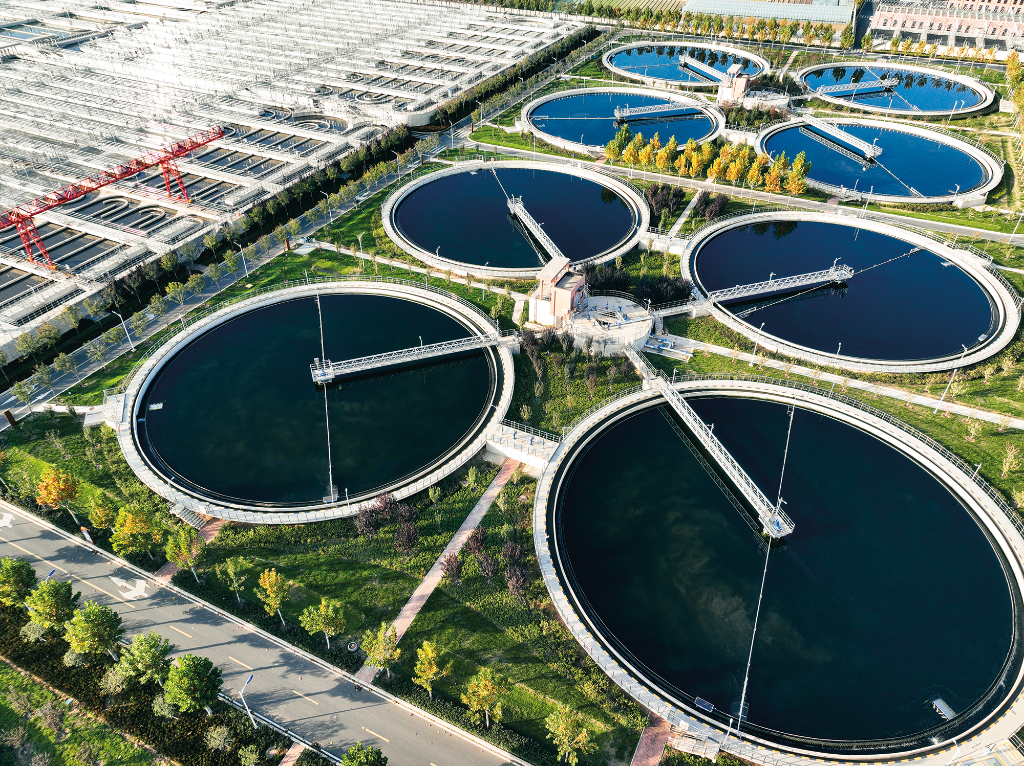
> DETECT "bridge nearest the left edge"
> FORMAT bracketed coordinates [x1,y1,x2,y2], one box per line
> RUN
[306,330,510,387]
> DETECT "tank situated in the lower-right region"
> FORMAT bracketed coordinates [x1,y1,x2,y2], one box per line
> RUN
[531,373,1024,766]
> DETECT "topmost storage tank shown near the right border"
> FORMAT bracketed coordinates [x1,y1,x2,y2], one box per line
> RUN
[794,57,994,121]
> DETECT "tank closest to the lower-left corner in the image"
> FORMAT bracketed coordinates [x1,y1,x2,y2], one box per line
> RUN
[114,275,515,528]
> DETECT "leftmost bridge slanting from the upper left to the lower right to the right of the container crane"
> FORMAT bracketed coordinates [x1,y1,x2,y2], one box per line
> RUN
[505,195,573,272]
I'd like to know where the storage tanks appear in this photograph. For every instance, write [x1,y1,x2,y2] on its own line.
[531,373,1024,766]
[680,205,1021,379]
[380,154,651,283]
[114,275,515,528]
[518,81,725,159]
[794,57,994,121]
[752,112,1003,209]
[600,36,771,90]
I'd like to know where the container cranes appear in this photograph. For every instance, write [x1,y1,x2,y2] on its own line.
[0,125,224,269]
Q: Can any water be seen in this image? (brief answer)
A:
Yes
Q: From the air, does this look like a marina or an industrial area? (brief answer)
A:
industrial area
